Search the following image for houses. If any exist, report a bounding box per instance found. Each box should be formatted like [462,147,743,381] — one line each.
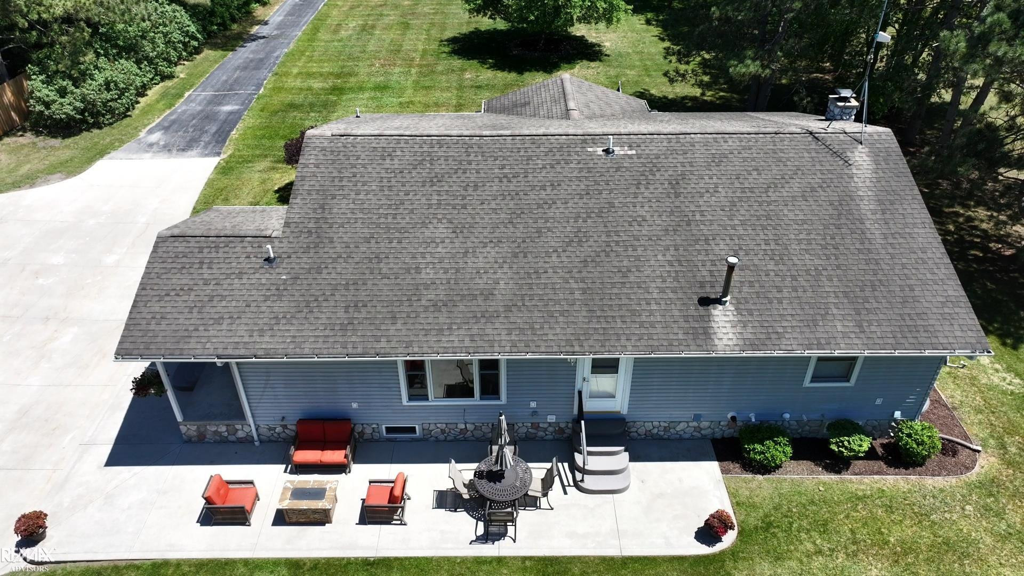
[111,73,997,448]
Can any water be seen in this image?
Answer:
No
